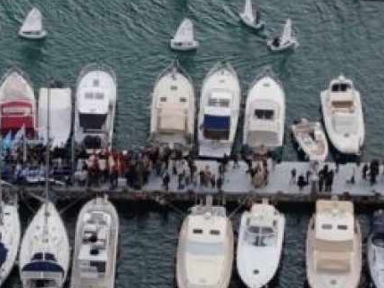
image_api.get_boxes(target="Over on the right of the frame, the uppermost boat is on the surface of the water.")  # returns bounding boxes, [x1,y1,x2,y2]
[240,0,267,30]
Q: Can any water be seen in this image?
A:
Yes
